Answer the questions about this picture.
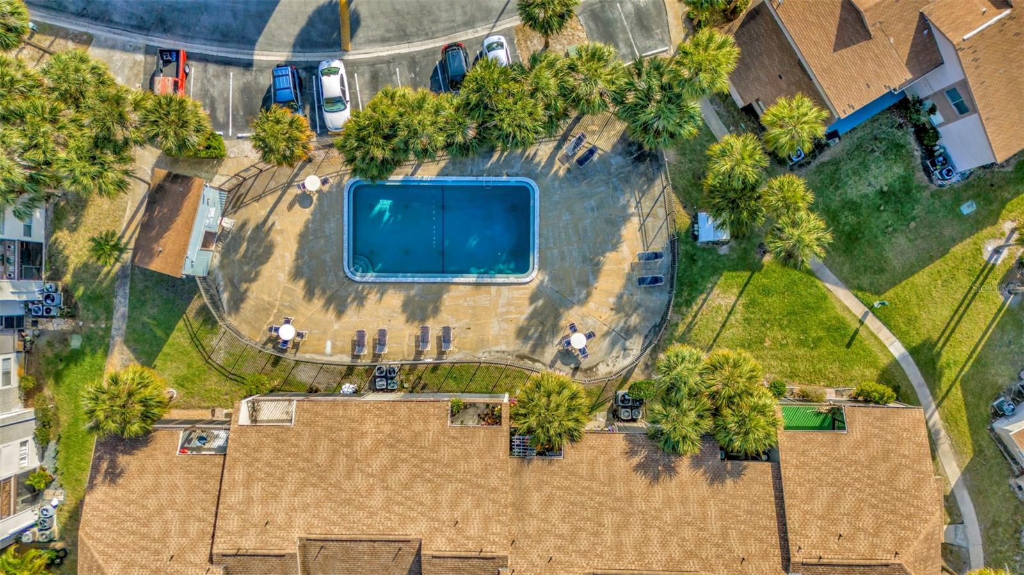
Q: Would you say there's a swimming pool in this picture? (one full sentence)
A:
Yes, this view includes a swimming pool.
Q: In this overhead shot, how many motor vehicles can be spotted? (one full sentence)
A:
Looking from above, you can make out 5 motor vehicles.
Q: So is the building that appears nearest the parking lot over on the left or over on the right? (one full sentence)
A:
The building that appears nearest the parking lot appears in the left half of the scene.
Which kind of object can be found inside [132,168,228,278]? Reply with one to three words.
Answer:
building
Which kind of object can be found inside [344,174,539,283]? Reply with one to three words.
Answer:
swimming pool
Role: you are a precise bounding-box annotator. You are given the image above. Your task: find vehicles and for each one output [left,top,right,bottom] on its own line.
[150,42,186,124]
[484,25,516,88]
[267,53,301,118]
[314,55,347,130]
[439,33,470,84]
